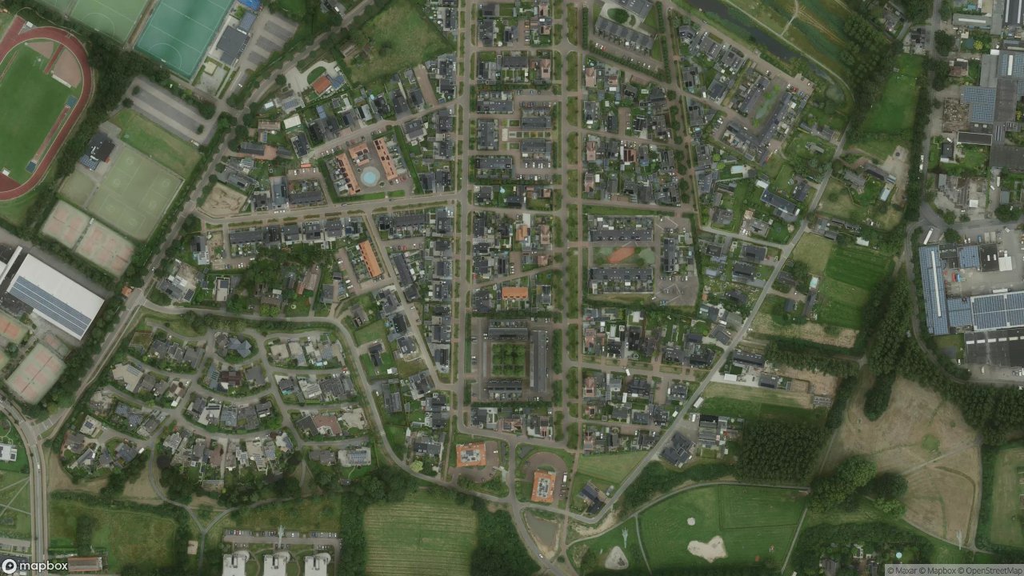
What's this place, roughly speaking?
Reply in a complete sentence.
This image shows a residential area.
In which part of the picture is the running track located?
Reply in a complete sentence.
The running track is located in the top left region of the scene.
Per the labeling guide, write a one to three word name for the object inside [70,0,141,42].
sports field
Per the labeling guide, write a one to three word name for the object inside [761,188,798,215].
barn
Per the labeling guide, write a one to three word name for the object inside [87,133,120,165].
building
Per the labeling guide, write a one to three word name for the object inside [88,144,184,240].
sports field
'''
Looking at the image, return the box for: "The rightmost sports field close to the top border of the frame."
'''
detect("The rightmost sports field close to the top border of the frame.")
[134,0,244,80]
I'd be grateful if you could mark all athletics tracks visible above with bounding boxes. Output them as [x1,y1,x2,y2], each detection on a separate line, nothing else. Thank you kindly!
[0,15,94,199]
